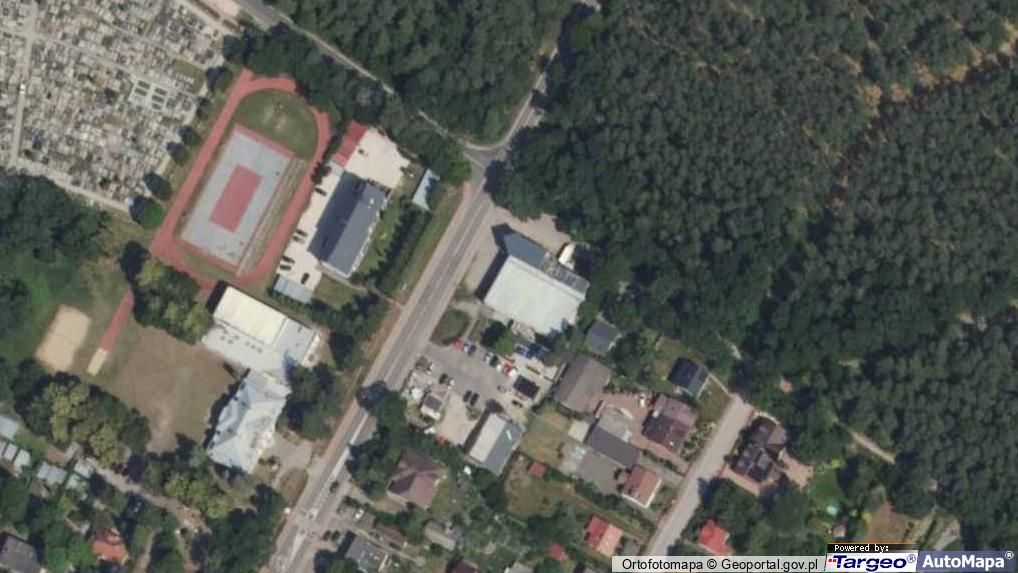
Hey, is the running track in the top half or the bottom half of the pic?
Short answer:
top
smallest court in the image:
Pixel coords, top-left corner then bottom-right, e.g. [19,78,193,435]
[35,305,91,372]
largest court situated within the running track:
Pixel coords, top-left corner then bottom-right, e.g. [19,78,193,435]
[176,122,298,276]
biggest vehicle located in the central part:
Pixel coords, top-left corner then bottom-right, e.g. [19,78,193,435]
[560,244,576,265]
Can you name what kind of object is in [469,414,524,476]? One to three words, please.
shed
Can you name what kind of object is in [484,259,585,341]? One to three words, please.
building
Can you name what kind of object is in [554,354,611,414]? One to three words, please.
barn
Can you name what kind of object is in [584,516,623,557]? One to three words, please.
house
